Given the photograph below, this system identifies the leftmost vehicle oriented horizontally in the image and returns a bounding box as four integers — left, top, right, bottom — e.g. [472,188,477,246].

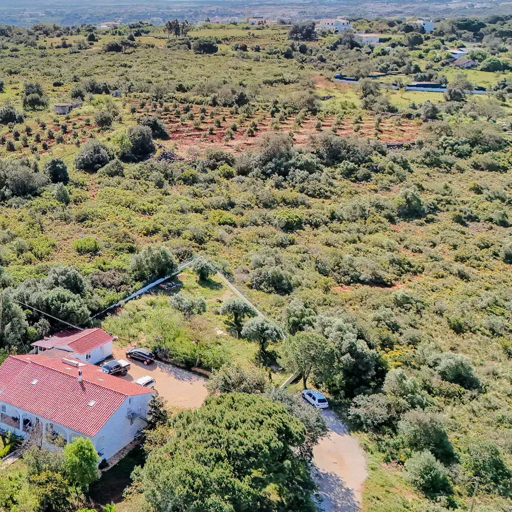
[96,359,137,376]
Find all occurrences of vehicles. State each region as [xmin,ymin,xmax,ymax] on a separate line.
[299,392,334,410]
[96,359,137,376]
[129,373,161,391]
[123,348,158,365]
